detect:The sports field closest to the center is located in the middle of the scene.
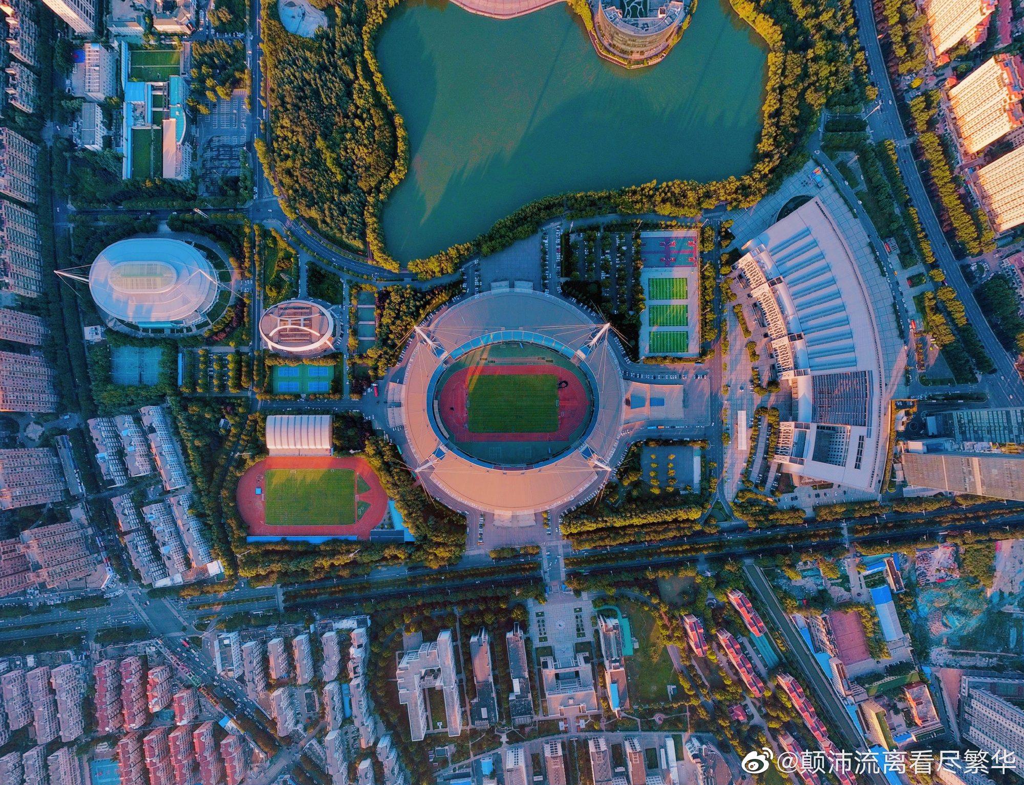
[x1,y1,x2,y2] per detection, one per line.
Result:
[468,374,558,433]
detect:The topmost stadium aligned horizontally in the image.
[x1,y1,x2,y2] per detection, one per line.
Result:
[55,238,243,329]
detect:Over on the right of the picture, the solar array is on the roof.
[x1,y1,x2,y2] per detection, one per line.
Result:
[811,371,865,426]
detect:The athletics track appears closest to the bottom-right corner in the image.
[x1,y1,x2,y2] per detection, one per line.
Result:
[435,342,592,466]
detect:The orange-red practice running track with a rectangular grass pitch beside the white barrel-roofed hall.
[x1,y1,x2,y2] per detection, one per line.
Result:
[236,457,387,541]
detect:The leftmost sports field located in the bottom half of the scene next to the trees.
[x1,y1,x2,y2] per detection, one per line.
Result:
[265,469,355,525]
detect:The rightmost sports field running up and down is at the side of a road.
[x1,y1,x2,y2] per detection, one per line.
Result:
[640,230,700,357]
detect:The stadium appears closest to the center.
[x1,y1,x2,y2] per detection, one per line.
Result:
[387,280,633,527]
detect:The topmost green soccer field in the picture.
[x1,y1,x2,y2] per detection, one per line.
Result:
[131,48,181,81]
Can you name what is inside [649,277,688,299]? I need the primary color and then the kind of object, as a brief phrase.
green soccer field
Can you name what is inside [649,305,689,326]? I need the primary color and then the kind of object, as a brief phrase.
green soccer field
